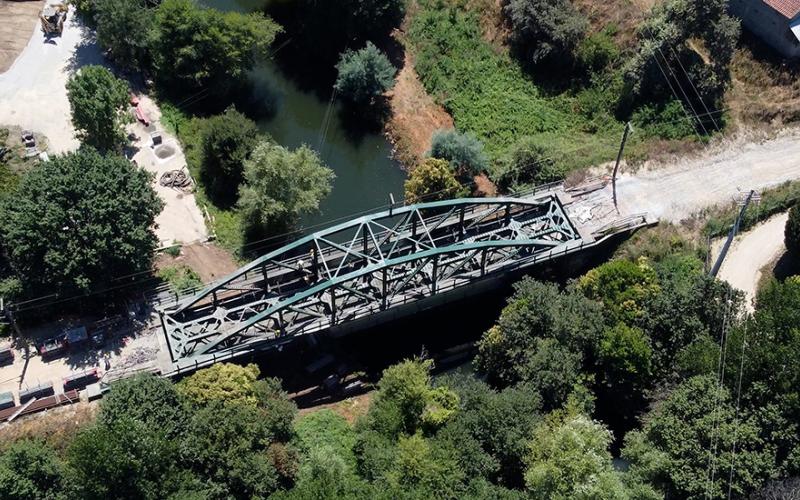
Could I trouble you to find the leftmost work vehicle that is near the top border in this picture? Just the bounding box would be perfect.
[34,0,67,47]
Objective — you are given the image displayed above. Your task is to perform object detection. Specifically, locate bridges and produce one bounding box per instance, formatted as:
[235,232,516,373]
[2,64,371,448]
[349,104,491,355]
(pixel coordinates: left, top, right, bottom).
[126,174,616,392]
